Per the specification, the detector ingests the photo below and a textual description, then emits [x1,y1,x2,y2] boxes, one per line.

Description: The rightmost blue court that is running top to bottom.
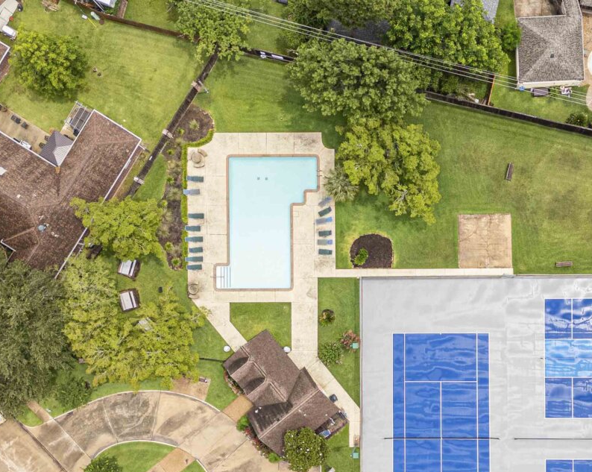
[545,300,592,418]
